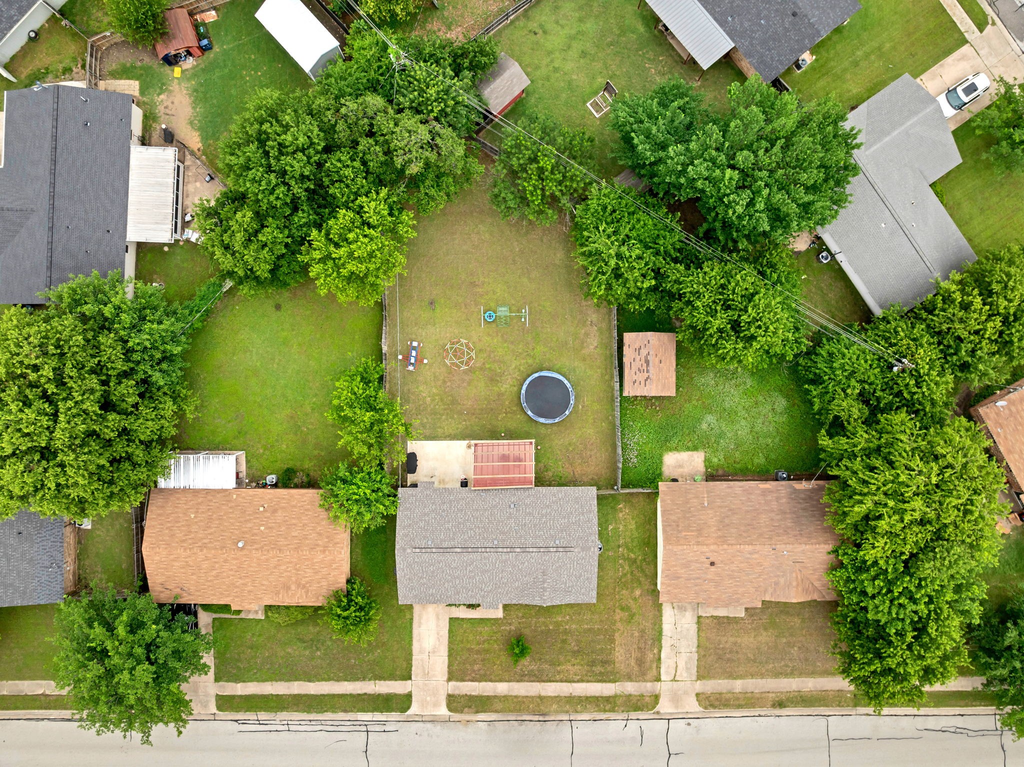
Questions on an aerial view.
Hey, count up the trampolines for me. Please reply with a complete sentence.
The photo contains exactly 1 trampoline.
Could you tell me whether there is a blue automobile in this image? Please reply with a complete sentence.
No, there is no blue automobile in the image.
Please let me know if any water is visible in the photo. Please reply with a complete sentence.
No, the picture contains no water.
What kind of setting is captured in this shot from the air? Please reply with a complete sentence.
It's a residential area.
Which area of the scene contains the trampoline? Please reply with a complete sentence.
You can find the trampoline in the center area of the picture.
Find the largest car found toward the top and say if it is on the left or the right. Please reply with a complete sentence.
You can find the largest car found toward the top on the right side of the picture.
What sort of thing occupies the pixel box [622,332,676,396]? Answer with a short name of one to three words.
shed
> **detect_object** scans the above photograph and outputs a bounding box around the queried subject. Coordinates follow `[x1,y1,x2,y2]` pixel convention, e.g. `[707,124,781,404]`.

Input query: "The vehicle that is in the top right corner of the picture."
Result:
[938,73,991,123]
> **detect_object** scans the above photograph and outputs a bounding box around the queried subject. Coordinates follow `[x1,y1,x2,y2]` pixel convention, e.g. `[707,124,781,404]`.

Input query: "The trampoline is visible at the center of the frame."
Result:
[521,370,575,424]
